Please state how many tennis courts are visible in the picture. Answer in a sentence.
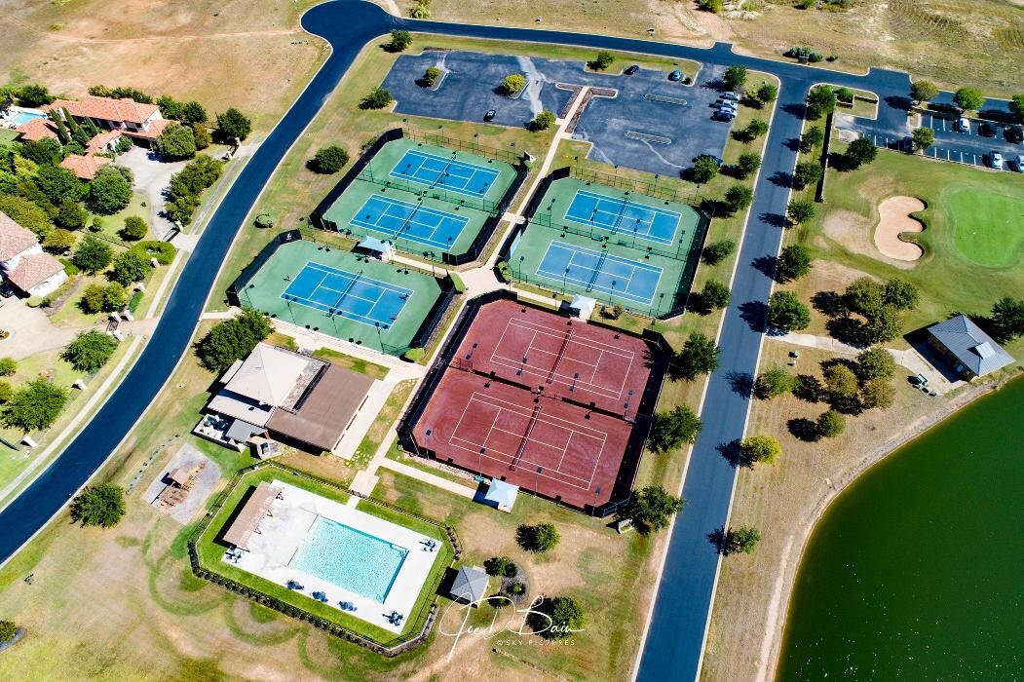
The photo contains 7 tennis courts.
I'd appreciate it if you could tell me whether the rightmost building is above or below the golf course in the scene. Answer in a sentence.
From this view, the rightmost building can be seen below the golf course.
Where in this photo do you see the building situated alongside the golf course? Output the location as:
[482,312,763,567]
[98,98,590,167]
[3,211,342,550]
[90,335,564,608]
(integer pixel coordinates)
[922,315,1017,385]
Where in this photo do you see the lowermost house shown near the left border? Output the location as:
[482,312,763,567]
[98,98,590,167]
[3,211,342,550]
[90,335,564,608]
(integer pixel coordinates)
[0,212,69,297]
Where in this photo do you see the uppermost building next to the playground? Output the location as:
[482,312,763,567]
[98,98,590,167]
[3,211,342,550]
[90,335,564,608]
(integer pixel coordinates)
[209,342,376,456]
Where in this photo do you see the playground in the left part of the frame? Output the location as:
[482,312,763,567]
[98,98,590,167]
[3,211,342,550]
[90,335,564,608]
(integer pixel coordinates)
[145,455,203,520]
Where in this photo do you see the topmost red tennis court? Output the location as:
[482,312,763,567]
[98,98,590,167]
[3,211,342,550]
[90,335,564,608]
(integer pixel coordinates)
[449,300,668,425]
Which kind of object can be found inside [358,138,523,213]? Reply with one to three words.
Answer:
tennis court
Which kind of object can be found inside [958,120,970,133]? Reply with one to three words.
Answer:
vehicle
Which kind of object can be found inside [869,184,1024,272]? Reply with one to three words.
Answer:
golf course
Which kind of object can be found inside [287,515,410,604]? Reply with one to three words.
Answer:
swimming pool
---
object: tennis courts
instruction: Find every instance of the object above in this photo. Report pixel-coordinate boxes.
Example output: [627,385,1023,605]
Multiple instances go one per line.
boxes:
[327,179,496,261]
[415,366,650,508]
[508,221,698,319]
[449,300,668,425]
[530,178,711,263]
[240,240,448,357]
[358,138,523,213]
